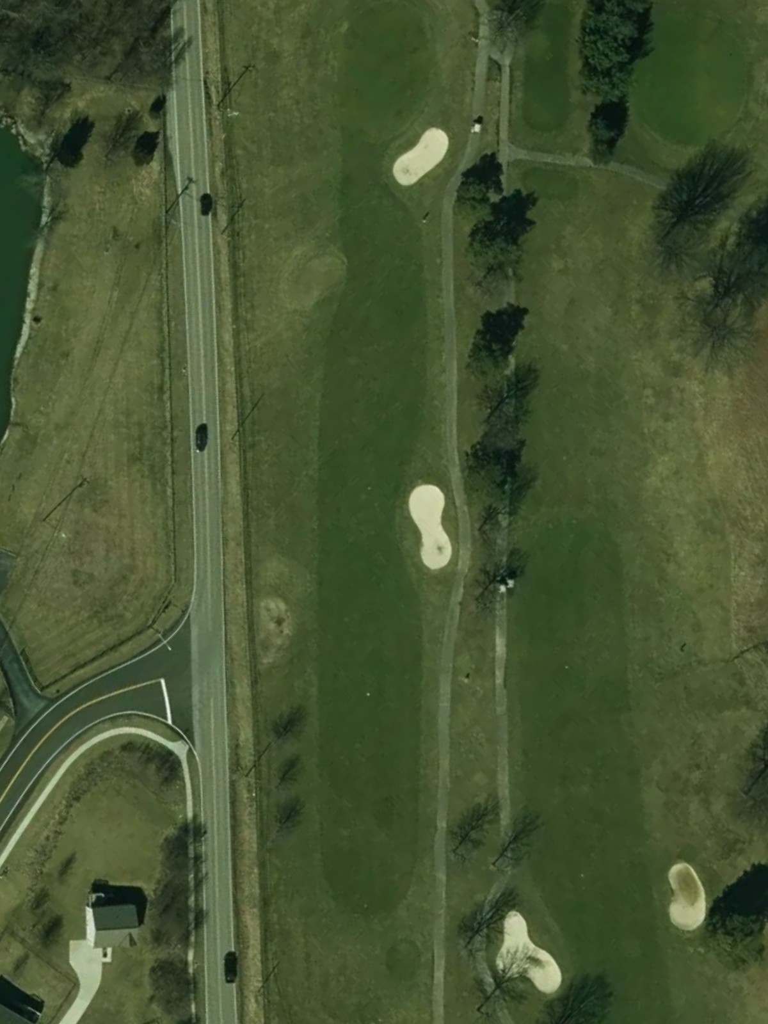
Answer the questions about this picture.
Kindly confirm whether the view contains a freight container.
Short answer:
No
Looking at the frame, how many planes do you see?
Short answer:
zero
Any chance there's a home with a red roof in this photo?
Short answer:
No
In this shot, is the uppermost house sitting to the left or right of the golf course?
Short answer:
left of it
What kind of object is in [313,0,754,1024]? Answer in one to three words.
golf course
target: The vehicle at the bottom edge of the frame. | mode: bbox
[223,956,235,982]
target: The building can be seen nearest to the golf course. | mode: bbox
[86,893,139,951]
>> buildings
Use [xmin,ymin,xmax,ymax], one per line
[86,893,139,951]
[0,1001,37,1024]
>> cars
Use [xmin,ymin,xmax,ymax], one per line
[199,196,210,218]
[194,427,206,451]
[223,956,235,982]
